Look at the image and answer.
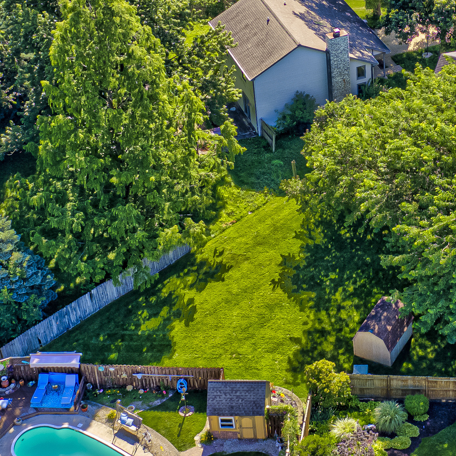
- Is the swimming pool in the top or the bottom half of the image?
bottom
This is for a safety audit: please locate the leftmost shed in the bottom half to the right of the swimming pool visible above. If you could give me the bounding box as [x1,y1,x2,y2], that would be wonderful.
[206,380,271,439]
